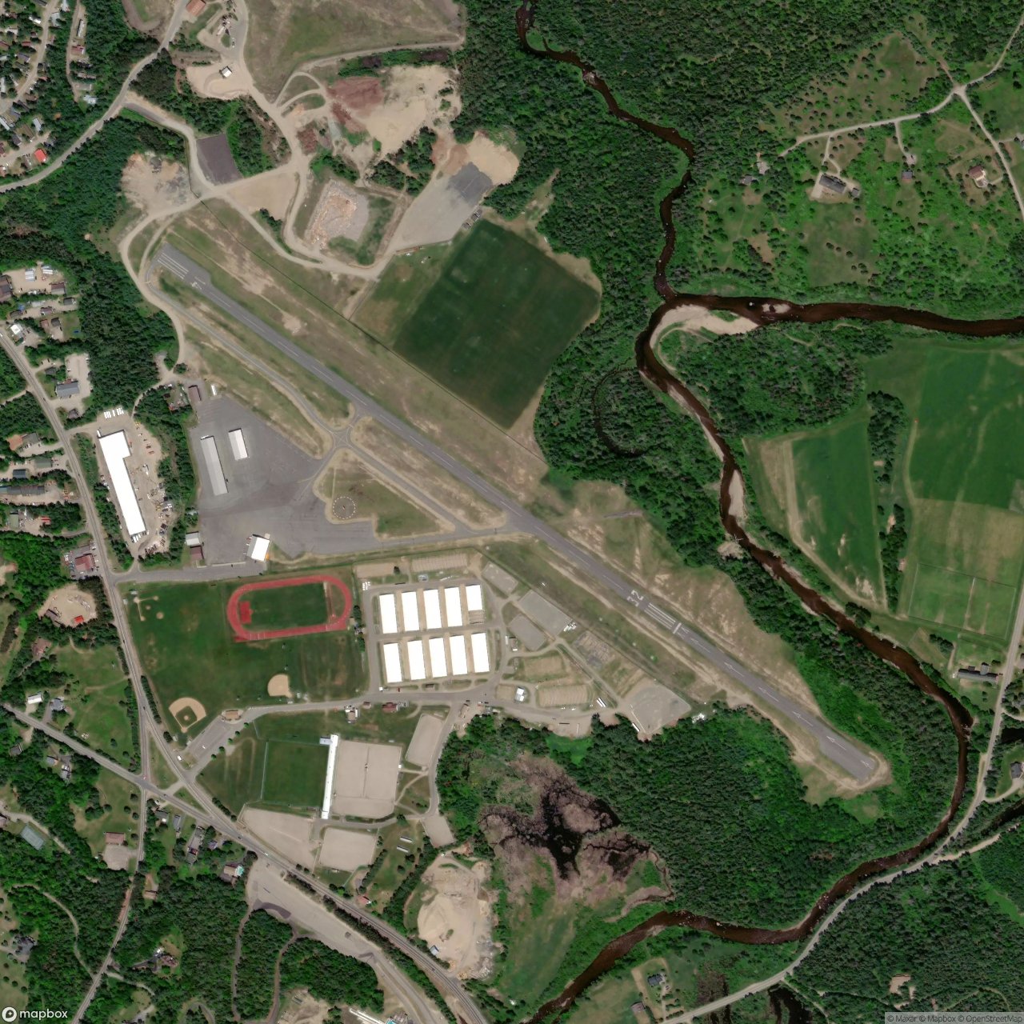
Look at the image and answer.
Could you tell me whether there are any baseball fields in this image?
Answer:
Yes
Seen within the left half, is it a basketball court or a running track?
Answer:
running track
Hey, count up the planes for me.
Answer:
0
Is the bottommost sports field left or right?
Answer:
left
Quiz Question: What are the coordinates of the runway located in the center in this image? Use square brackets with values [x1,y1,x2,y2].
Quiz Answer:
[153,243,875,781]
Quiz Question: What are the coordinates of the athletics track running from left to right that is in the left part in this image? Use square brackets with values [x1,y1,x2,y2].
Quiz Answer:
[228,575,352,642]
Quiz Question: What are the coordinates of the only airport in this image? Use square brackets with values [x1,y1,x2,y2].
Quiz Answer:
[113,243,875,781]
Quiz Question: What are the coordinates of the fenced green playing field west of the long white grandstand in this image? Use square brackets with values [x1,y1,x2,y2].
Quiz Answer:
[262,743,330,803]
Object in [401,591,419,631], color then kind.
white tent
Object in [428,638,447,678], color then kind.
white tent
